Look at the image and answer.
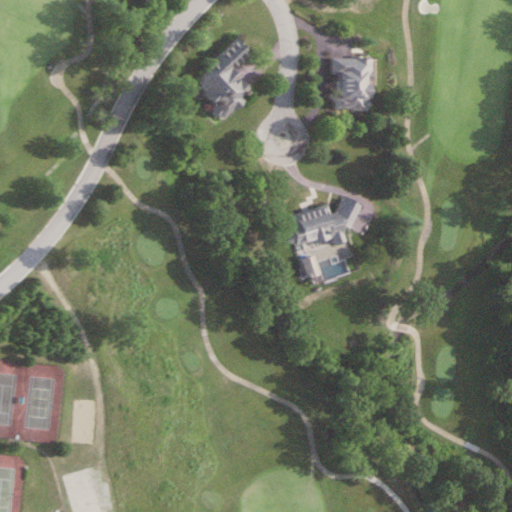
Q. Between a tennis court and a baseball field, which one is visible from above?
tennis court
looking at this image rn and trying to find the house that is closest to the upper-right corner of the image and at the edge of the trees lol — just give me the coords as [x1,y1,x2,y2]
[328,56,378,113]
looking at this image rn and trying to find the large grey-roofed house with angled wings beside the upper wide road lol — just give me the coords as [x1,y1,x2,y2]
[198,40,252,124]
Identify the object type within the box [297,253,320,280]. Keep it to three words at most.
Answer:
building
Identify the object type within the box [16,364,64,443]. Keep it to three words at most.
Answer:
tennis court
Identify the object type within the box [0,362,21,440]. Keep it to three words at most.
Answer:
tennis court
